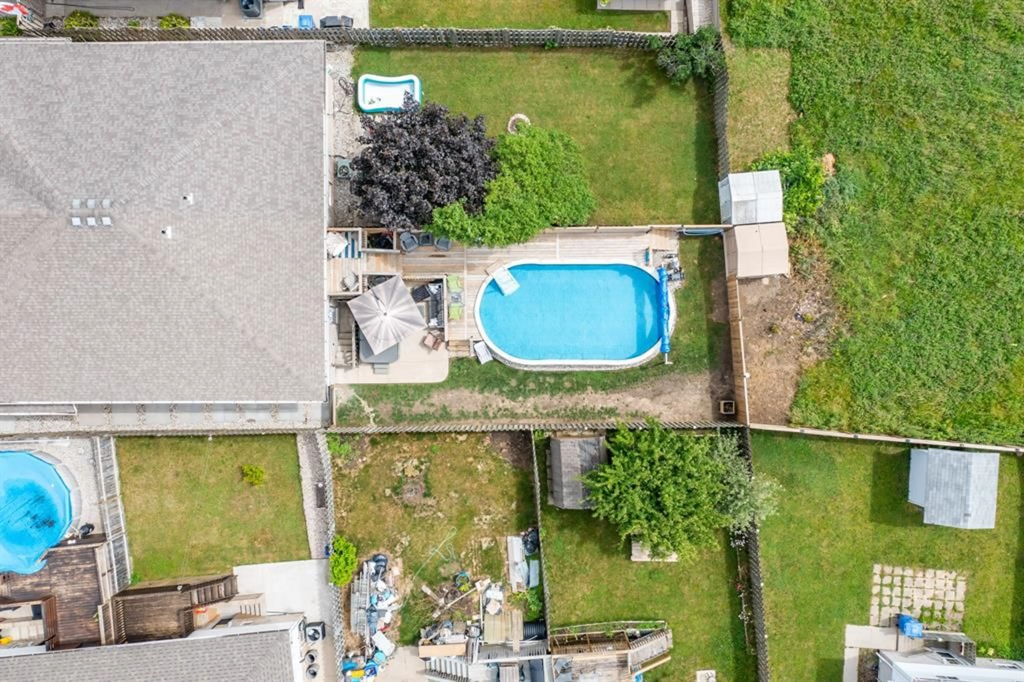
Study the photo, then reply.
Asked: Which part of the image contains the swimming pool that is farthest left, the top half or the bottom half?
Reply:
bottom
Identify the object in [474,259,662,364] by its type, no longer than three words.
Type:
swimming pool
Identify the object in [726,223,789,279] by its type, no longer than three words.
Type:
shed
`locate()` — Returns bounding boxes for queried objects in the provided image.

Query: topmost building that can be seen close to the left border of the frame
[0,34,333,416]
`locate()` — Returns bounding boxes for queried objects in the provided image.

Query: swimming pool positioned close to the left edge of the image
[0,440,85,575]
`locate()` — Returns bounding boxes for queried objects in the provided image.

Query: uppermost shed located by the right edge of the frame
[904,447,1000,529]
